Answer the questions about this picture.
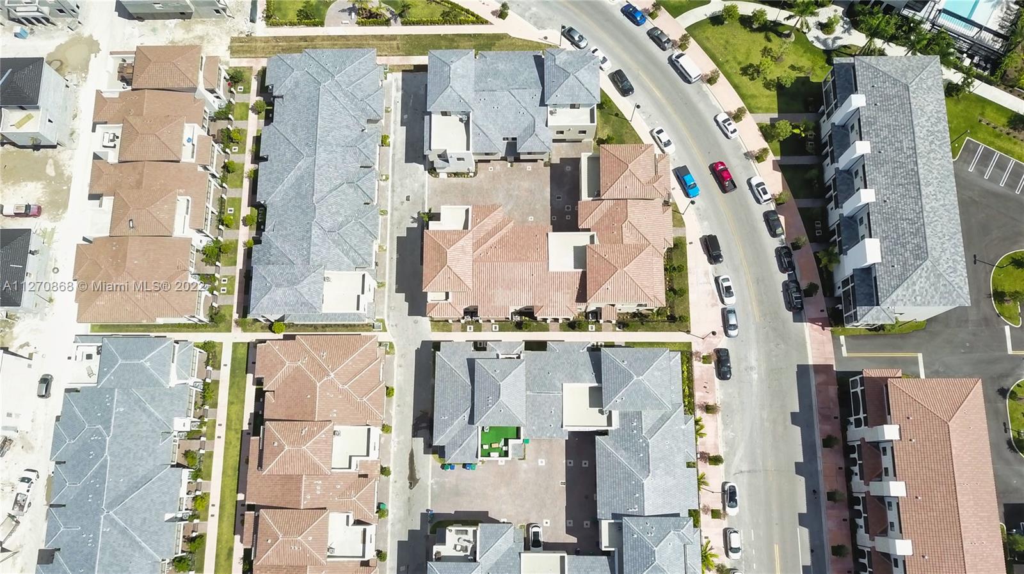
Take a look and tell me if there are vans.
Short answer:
Yes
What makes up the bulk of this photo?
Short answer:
buildings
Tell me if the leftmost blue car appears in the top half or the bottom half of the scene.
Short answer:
top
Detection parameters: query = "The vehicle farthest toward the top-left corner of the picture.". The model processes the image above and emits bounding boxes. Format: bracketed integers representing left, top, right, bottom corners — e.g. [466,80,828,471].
[3,201,44,218]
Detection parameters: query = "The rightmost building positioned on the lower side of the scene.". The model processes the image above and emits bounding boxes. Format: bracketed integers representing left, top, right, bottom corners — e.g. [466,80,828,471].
[839,368,1007,574]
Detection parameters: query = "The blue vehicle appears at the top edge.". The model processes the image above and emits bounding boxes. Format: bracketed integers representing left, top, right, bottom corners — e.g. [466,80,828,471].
[619,1,646,26]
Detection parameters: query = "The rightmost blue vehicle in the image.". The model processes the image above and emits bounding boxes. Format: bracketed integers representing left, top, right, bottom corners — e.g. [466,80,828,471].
[673,164,700,200]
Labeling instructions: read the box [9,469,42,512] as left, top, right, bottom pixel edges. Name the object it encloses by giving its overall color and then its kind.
white truck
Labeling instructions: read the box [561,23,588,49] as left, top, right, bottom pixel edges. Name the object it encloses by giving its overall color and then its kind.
gray car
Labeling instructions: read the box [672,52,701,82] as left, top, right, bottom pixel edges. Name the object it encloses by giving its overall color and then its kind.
white van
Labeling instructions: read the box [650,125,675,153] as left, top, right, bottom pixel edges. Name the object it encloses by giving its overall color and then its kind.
white car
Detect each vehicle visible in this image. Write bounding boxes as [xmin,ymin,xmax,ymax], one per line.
[710,159,739,195]
[774,244,794,275]
[0,421,18,455]
[619,1,646,26]
[645,25,672,51]
[722,480,740,516]
[9,469,42,512]
[609,68,634,96]
[721,306,739,338]
[672,52,701,82]
[650,125,675,153]
[527,520,544,545]
[561,23,588,49]
[589,44,612,72]
[761,207,784,239]
[3,201,44,218]
[748,175,772,206]
[715,347,733,380]
[702,232,721,263]
[723,526,742,562]
[713,111,739,139]
[716,275,735,305]
[673,164,700,200]
[36,372,57,402]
